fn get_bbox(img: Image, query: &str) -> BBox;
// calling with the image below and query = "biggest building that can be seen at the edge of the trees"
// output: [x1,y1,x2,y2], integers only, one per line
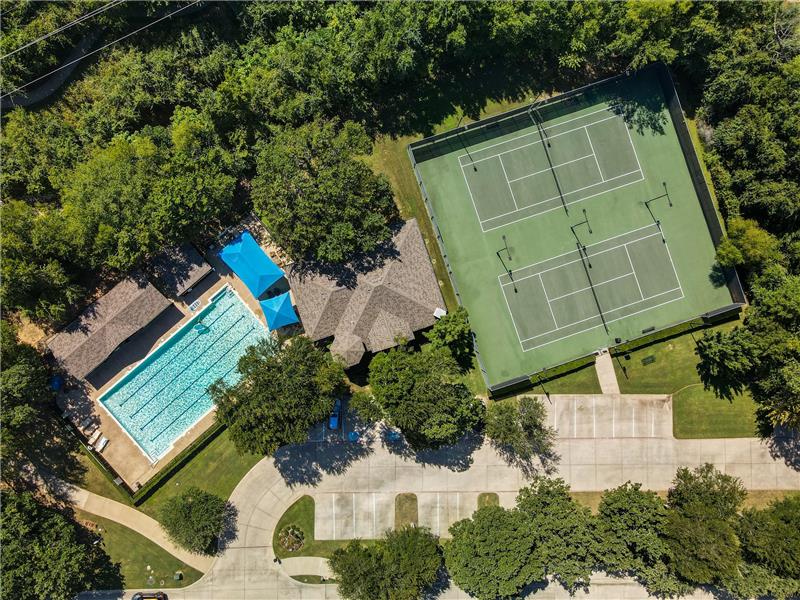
[284,218,446,364]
